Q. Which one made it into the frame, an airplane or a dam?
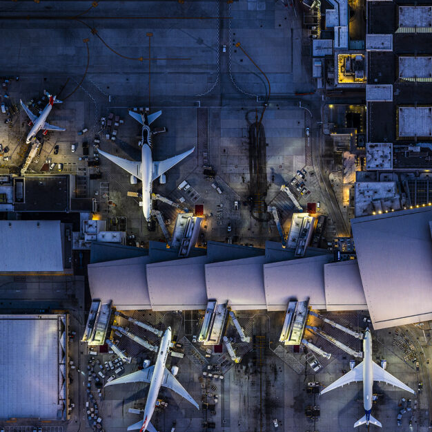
airplane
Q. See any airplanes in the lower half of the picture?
Yes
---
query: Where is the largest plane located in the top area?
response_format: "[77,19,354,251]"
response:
[97,109,194,221]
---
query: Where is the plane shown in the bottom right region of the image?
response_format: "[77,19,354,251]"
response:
[319,327,415,429]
